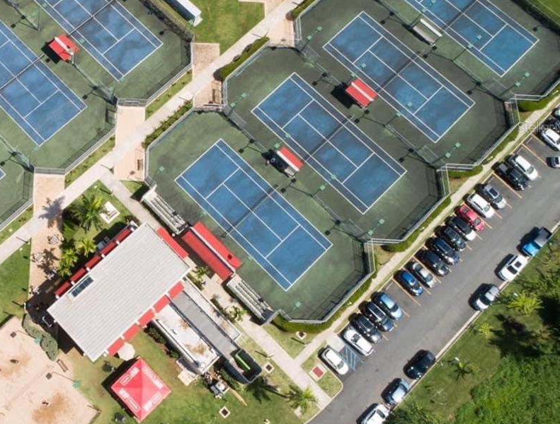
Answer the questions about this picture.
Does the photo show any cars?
Yes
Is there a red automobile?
Yes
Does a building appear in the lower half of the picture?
Yes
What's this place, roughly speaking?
sports ground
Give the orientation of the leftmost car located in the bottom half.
diagonally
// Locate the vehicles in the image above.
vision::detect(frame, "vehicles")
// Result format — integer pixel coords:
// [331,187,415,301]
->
[498,255,529,281]
[508,153,539,182]
[318,344,349,375]
[372,291,403,321]
[465,189,496,219]
[476,180,507,209]
[357,403,391,424]
[474,283,501,309]
[350,312,382,343]
[519,227,556,256]
[494,159,530,192]
[406,258,436,288]
[418,247,450,278]
[549,155,560,168]
[446,211,477,241]
[361,301,394,332]
[438,224,469,252]
[538,125,560,153]
[547,113,560,133]
[404,350,437,379]
[382,378,411,404]
[393,269,424,298]
[429,236,462,266]
[343,325,376,358]
[454,203,485,231]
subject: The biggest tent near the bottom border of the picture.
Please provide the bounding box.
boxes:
[111,358,172,422]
